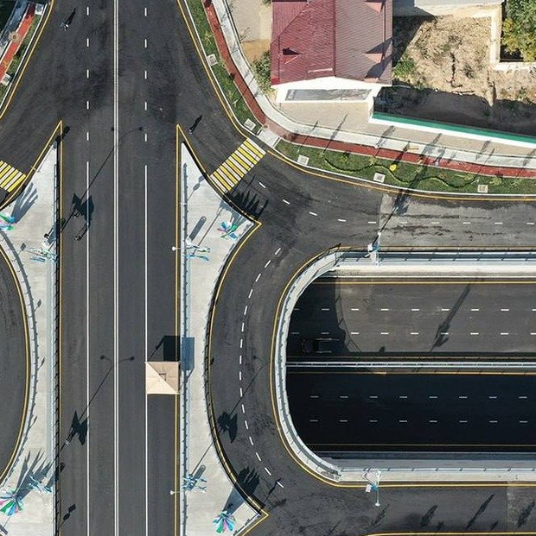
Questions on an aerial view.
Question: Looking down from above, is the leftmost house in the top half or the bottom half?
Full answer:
You can find the leftmost house in the top half.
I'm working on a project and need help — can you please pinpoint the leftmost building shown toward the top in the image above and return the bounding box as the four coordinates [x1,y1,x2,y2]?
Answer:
[263,0,391,106]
